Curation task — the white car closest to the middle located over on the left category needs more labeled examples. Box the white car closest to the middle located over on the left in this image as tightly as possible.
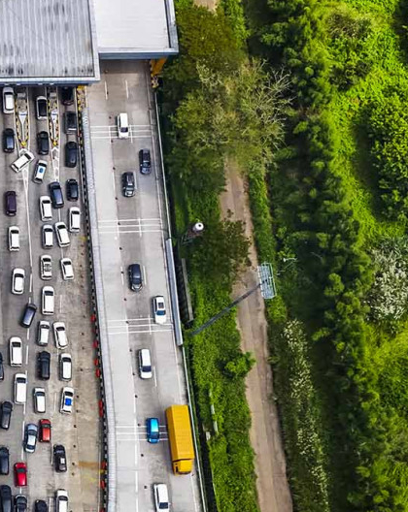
[151,295,167,324]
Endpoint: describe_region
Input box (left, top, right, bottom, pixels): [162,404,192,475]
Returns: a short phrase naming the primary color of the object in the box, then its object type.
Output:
yellow truck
